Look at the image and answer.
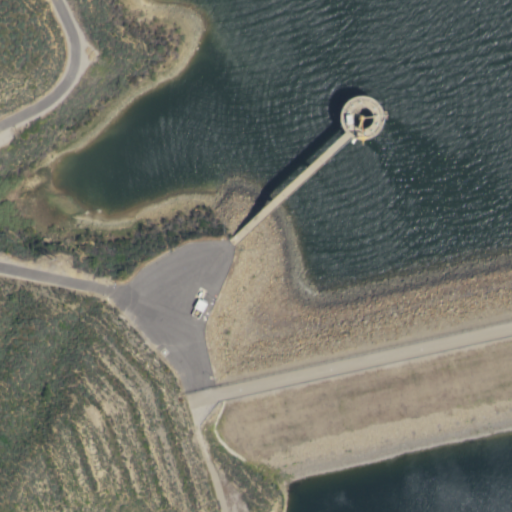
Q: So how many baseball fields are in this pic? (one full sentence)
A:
No baseball fields are visible.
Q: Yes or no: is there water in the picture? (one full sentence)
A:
Yes, there's water in this view.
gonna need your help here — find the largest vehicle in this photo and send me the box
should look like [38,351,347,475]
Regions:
[192,298,208,319]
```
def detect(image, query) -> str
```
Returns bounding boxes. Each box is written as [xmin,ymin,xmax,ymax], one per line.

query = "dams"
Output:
[186,172,512,476]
